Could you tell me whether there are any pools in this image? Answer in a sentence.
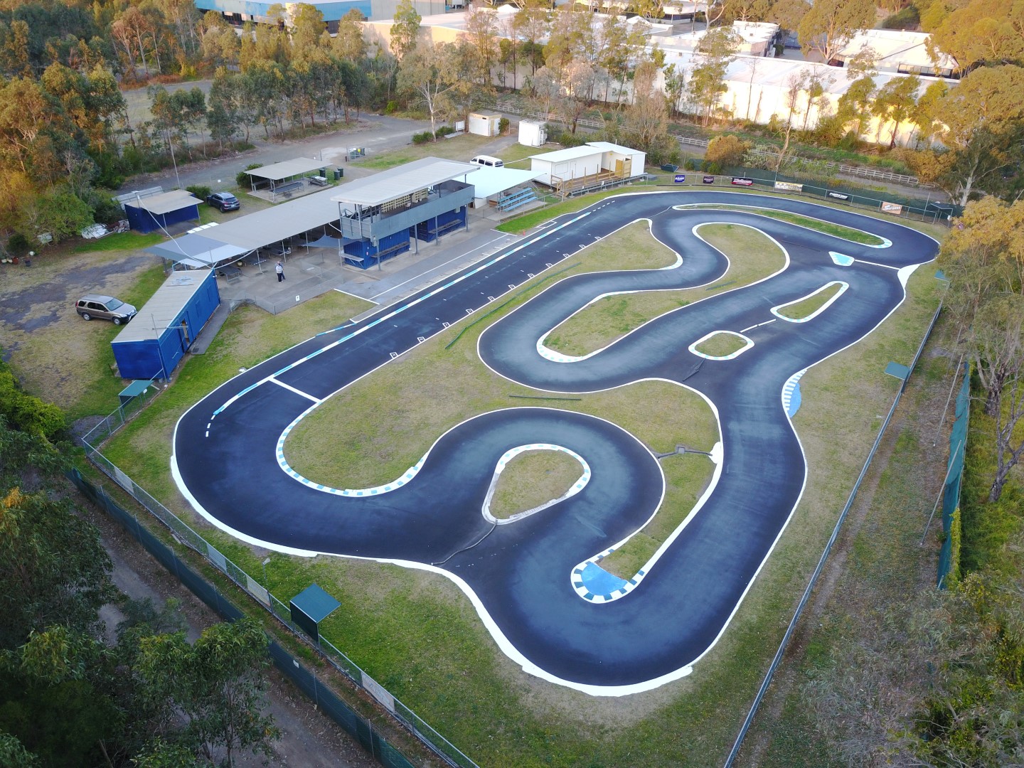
No, there appears to be no pool in this shot.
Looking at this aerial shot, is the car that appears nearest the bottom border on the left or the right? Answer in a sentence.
The car that appears nearest the bottom border sits on the left side.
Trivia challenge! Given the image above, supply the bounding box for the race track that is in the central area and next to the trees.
[175,191,940,685]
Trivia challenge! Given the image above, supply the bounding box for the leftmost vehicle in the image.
[72,291,139,326]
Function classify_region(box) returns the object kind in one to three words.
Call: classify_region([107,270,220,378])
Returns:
building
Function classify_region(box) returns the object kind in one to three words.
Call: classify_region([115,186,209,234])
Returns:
shed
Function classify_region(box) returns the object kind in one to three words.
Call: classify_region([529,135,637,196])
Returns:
building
